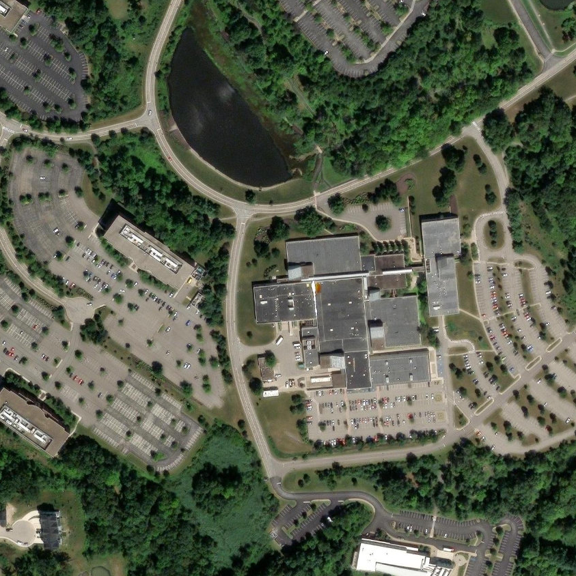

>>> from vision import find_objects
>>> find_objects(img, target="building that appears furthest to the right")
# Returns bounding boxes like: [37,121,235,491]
[421,217,460,316]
